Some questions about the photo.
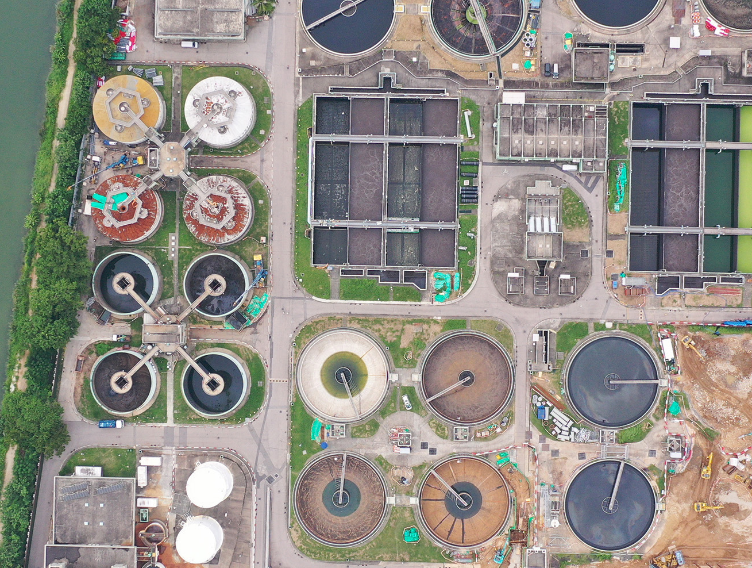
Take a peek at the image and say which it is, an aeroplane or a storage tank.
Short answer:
storage tank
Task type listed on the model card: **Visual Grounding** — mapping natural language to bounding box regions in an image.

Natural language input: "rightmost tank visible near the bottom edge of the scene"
[559,453,665,556]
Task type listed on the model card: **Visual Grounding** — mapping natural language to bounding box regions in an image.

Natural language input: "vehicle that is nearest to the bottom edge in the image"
[493,537,508,562]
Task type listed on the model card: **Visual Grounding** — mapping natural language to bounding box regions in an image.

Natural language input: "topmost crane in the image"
[67,154,144,190]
